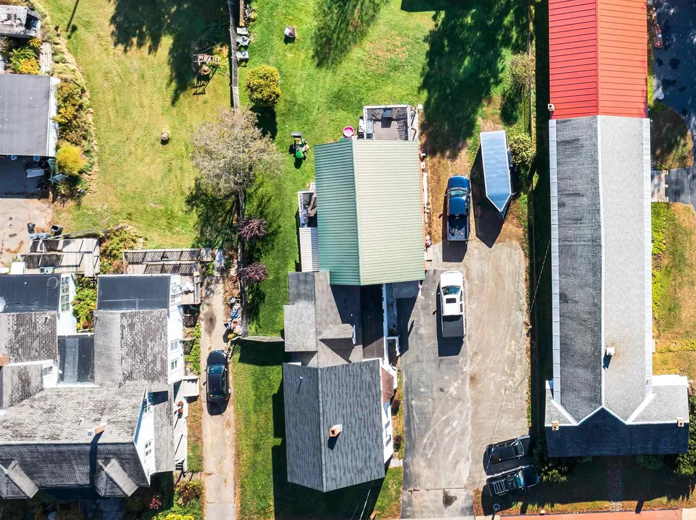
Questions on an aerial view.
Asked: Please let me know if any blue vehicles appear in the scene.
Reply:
Yes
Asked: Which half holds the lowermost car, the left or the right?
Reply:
right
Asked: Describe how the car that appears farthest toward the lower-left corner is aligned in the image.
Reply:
up and down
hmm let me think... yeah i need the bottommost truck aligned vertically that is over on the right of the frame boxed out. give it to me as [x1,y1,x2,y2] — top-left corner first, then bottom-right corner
[436,271,464,338]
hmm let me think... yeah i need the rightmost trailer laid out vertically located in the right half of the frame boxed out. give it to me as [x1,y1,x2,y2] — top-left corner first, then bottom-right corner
[480,129,514,225]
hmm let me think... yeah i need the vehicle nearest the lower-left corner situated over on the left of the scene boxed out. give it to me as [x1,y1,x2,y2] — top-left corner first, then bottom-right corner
[203,349,232,404]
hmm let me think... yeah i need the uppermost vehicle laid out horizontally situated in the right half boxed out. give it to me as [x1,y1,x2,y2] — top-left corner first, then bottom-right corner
[480,433,534,464]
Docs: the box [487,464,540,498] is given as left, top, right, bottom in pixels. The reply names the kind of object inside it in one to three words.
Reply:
car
